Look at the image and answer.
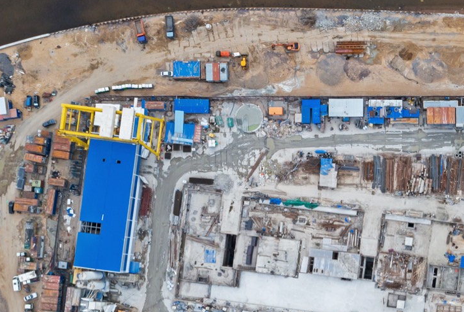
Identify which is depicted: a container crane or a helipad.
container crane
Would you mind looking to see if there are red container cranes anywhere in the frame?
No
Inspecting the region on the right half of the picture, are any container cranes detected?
No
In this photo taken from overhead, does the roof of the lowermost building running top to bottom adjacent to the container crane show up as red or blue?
blue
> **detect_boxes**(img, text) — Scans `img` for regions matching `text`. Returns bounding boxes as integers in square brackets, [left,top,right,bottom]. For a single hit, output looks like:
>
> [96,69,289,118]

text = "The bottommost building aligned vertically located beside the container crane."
[73,140,148,274]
